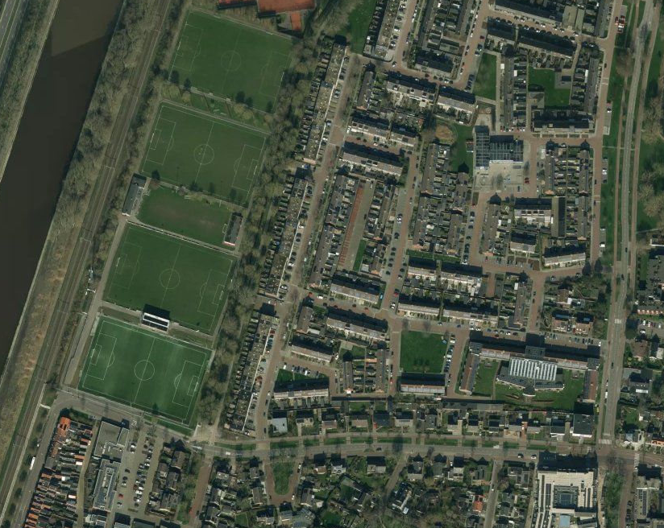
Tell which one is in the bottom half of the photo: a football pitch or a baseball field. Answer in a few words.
football pitch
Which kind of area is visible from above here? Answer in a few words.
residential area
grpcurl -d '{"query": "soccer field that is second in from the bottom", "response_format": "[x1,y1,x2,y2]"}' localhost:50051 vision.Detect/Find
[103,225,234,332]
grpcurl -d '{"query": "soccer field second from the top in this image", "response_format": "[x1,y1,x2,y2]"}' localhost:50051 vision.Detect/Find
[145,104,266,205]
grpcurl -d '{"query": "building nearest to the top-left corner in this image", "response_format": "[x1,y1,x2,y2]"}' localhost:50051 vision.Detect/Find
[123,175,148,214]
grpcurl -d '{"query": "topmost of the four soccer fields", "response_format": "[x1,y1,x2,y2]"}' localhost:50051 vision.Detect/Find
[167,9,295,114]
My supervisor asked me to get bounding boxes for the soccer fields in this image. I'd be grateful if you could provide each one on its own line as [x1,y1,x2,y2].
[103,225,234,332]
[76,316,212,425]
[167,9,295,114]
[145,104,266,205]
